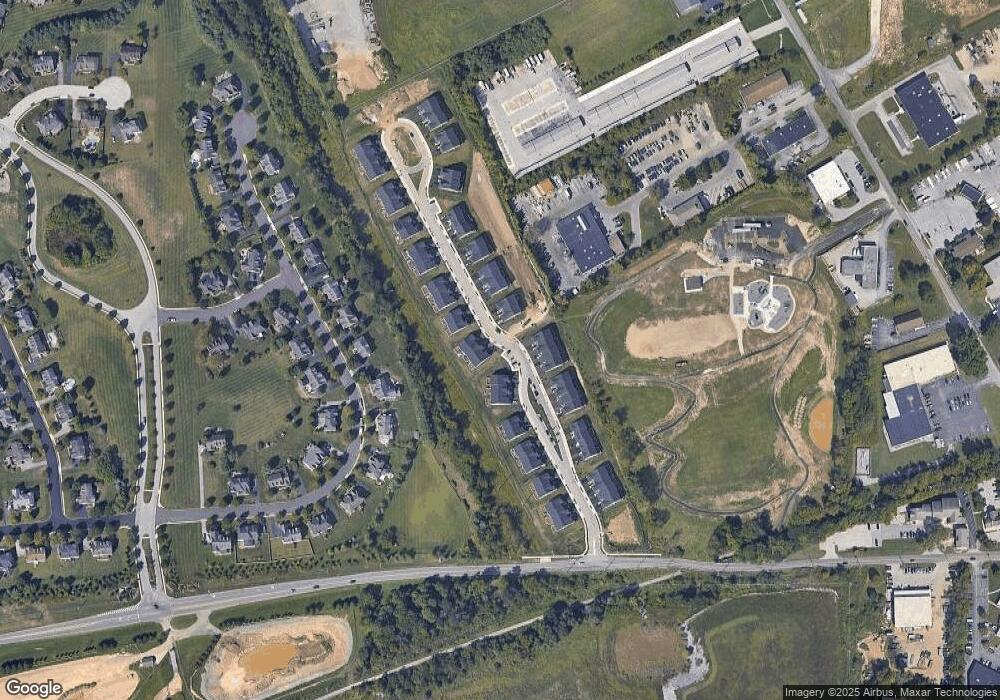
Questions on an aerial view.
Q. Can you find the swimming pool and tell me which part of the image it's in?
top left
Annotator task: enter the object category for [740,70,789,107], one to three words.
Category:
building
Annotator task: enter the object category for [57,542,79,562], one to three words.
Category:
house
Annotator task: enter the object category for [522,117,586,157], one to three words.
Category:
building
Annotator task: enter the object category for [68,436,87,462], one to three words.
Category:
house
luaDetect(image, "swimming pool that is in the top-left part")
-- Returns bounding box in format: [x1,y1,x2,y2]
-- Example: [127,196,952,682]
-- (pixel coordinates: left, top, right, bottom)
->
[80,134,102,153]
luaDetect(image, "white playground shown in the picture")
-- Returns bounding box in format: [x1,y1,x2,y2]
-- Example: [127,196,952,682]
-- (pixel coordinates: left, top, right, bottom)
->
[731,276,795,332]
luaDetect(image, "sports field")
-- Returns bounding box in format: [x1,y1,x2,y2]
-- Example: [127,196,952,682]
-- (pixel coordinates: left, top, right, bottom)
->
[629,315,736,357]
